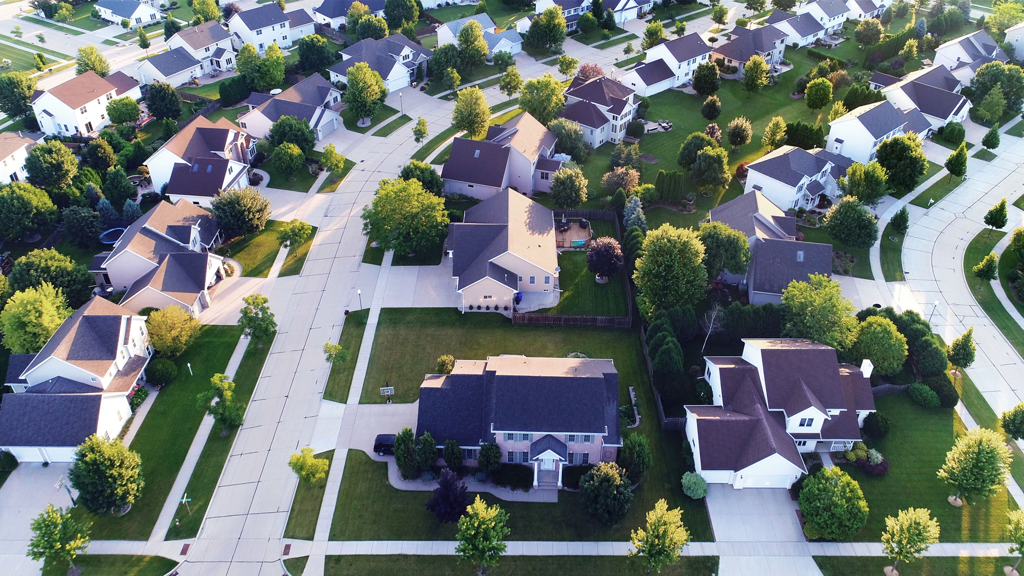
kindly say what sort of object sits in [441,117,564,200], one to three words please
house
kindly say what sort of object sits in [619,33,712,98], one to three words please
house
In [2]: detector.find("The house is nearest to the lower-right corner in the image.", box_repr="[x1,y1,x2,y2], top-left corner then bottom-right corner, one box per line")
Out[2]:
[684,339,876,491]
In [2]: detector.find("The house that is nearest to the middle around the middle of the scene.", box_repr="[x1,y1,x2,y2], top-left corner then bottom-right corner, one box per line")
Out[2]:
[448,187,560,310]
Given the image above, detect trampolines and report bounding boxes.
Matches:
[97,228,128,247]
